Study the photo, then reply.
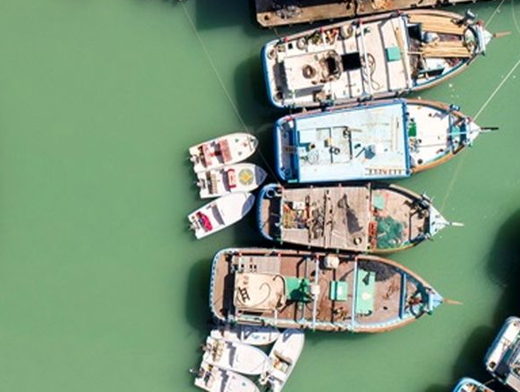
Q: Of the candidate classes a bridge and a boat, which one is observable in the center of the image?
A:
boat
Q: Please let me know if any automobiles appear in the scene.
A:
No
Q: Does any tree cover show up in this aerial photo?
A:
No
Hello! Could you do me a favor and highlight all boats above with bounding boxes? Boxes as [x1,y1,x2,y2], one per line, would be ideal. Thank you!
[445,374,494,392]
[210,247,465,334]
[485,320,520,389]
[194,164,268,198]
[200,336,268,370]
[259,9,518,110]
[274,96,505,189]
[261,329,300,392]
[187,135,258,172]
[256,178,469,253]
[187,190,255,239]
[194,362,261,392]
[206,321,280,347]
